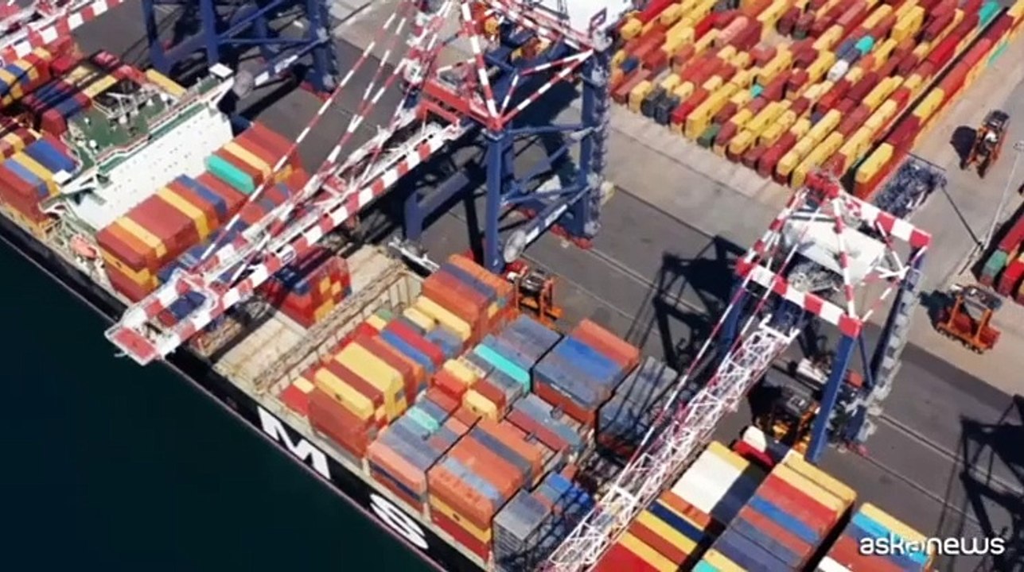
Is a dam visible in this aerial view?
No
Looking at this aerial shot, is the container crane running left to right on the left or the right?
left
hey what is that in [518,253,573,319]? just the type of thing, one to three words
work vehicle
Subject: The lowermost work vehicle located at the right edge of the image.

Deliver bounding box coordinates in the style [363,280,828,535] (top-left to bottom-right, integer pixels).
[927,271,1000,352]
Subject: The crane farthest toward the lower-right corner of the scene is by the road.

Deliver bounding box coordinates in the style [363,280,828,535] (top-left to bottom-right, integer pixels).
[525,162,953,572]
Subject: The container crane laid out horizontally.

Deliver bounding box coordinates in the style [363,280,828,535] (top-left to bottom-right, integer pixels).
[0,0,326,142]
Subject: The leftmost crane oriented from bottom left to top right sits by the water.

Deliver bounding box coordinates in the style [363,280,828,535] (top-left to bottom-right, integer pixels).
[100,0,649,376]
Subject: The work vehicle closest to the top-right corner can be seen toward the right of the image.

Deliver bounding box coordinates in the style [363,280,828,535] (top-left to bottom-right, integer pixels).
[961,100,1012,172]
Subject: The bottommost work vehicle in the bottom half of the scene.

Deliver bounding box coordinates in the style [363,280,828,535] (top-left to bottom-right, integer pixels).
[749,363,819,448]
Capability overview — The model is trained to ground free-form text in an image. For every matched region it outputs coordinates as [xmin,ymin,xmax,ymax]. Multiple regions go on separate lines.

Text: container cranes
[0,0,326,142]
[100,0,649,376]
[525,162,953,572]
